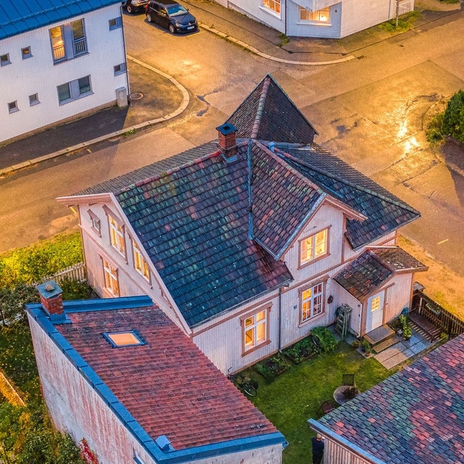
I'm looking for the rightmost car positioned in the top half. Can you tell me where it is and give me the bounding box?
[137,0,201,34]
